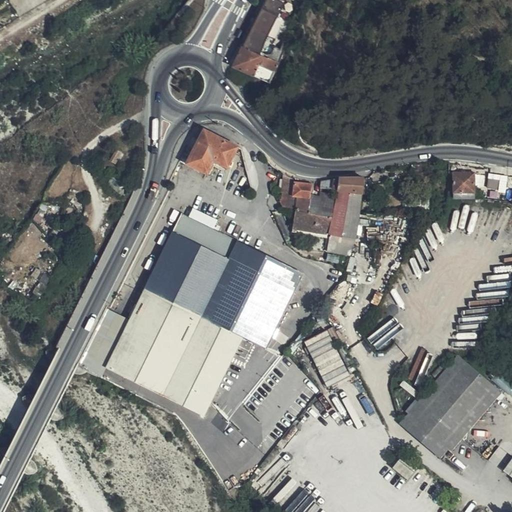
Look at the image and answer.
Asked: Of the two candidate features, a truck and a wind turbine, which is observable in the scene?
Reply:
truck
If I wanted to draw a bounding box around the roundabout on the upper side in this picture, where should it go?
[150,48,224,121]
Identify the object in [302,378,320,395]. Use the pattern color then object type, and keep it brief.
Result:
white vehicle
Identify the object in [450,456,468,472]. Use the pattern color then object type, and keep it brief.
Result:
white vehicle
